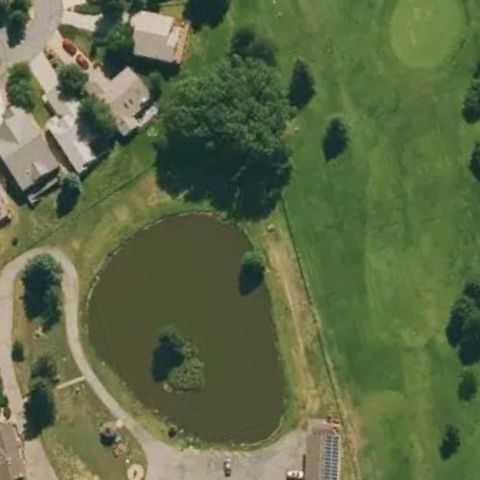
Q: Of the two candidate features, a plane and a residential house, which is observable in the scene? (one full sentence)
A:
Looking from above, you can make out a residential house.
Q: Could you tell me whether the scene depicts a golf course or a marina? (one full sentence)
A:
It's a golf course.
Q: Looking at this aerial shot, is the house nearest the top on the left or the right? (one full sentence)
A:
The house nearest the top sits on the left side.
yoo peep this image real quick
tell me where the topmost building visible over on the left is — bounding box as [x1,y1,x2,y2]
[130,13,176,62]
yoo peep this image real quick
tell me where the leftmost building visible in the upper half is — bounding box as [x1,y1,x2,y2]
[0,110,58,190]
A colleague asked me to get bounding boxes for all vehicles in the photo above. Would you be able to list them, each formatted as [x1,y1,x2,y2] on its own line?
[63,38,77,54]
[75,54,89,70]
[224,456,232,474]
[286,471,304,479]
